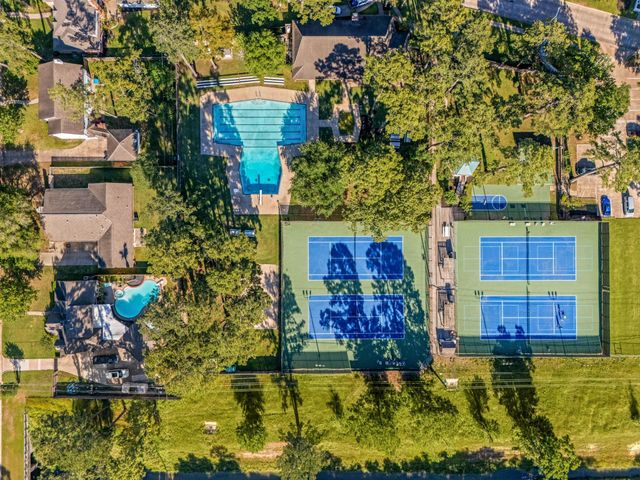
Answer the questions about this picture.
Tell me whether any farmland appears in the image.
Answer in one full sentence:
No, there's no farmland in this view.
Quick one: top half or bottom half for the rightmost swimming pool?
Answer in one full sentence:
It is in the top half that the rightmost swimming pool appears.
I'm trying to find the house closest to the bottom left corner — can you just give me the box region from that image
[46,281,102,343]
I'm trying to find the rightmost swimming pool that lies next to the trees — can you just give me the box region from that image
[213,90,307,196]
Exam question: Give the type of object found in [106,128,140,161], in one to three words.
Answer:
building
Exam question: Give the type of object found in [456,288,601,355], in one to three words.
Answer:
tennis court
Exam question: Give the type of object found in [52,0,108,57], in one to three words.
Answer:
house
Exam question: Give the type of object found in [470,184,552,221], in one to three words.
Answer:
basketball court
